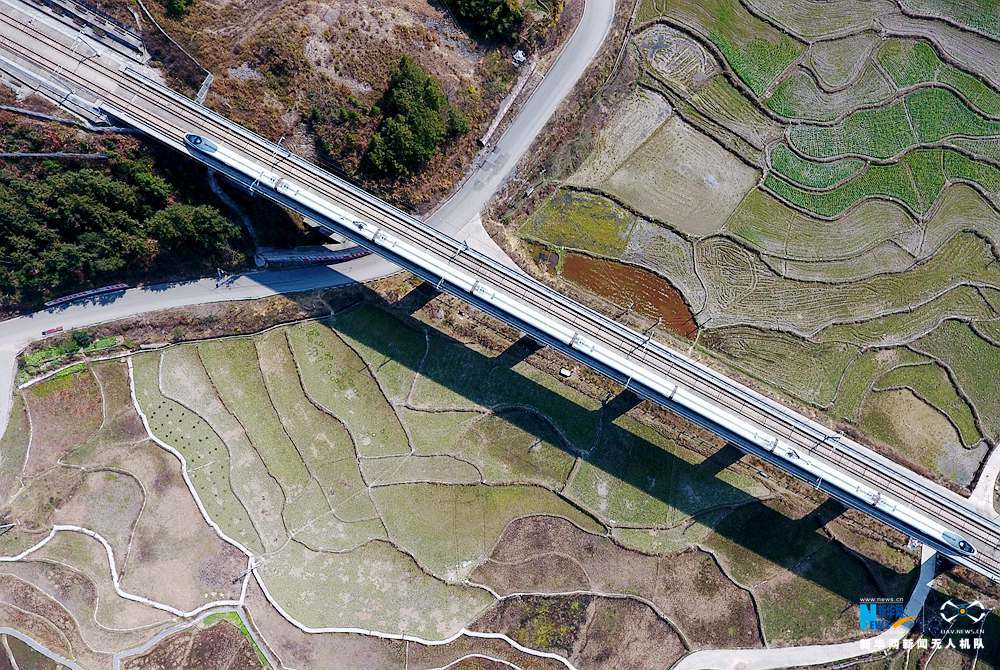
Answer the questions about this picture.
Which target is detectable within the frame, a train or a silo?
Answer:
train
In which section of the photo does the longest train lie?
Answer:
center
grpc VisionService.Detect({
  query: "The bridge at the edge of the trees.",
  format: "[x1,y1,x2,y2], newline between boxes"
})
[94,60,1000,586]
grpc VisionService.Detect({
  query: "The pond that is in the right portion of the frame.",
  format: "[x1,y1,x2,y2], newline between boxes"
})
[558,248,698,336]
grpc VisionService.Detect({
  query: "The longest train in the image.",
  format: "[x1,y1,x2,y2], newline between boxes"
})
[184,134,973,554]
